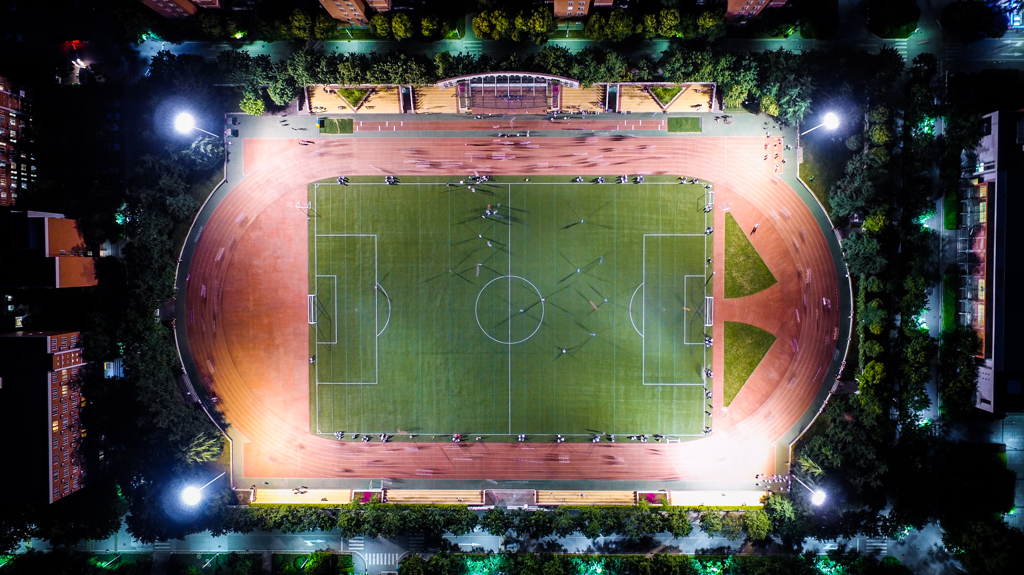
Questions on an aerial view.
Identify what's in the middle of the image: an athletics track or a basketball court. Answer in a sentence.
The feature located in the middle of the image is an athletics track.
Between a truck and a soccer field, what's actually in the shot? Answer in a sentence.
I can see a soccer field in this picture.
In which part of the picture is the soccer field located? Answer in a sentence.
The soccer field appears toward the center of the photo.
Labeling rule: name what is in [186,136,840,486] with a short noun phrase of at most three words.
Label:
running track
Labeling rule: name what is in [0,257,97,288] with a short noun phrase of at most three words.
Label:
building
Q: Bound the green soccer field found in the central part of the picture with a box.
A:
[308,174,715,443]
